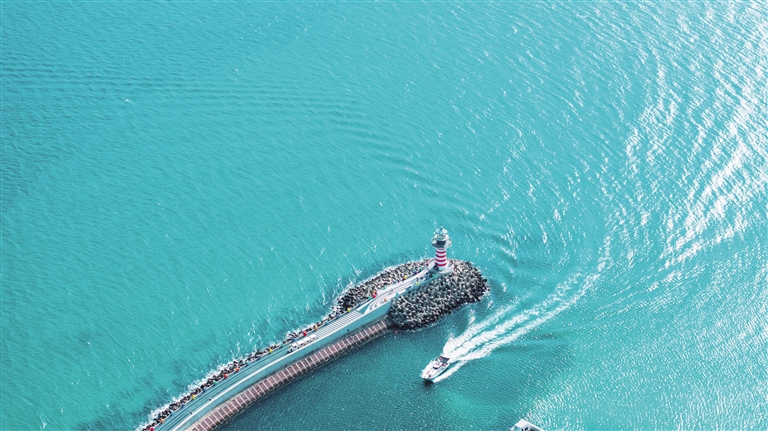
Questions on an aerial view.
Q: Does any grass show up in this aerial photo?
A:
No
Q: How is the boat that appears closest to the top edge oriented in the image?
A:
at an angle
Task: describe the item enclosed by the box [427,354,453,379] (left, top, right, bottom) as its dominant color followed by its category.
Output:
white boat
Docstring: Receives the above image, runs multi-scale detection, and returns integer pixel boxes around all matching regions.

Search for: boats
[512,419,544,431]
[427,354,453,379]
